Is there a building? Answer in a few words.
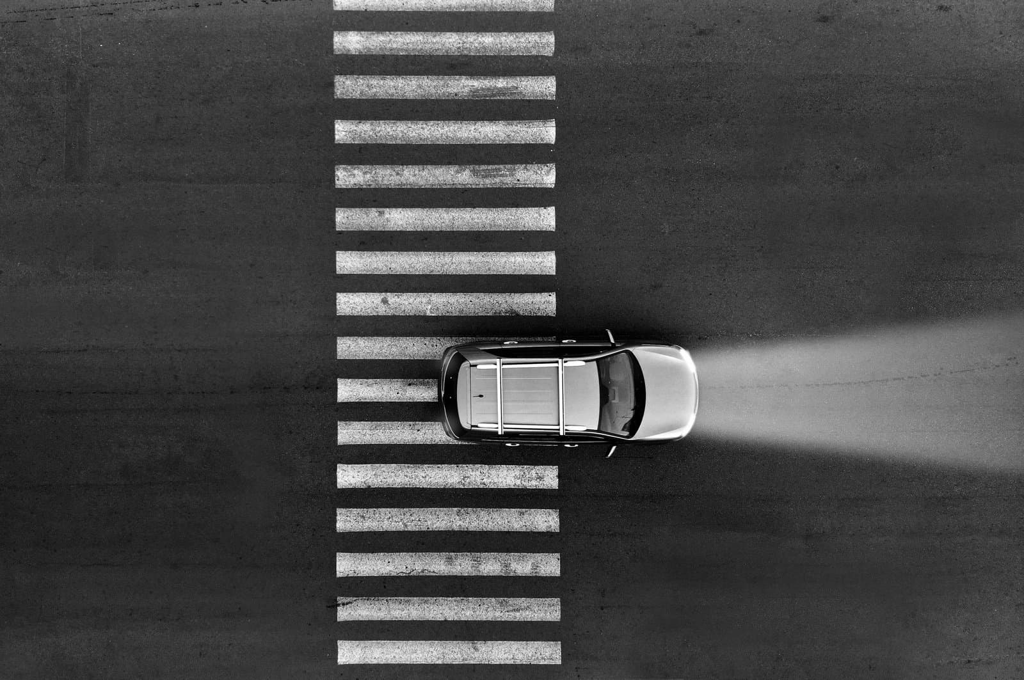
No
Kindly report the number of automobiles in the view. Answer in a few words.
1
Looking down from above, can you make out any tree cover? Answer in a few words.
No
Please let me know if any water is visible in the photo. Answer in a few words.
No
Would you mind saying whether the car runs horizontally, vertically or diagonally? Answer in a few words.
horizontally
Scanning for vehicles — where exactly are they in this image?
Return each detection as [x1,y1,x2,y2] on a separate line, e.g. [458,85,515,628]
[438,330,699,459]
